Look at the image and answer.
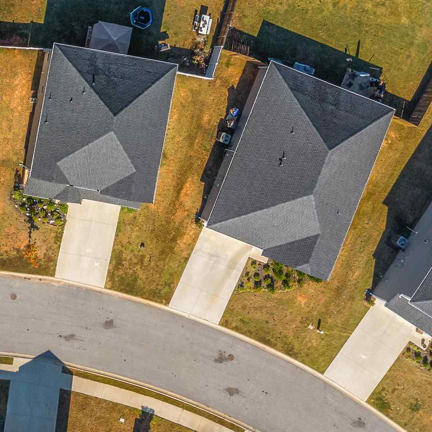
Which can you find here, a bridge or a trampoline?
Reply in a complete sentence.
I can see a trampoline in this picture.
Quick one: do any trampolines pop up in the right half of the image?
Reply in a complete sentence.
No, no trampoline can be made out in the right half of the image.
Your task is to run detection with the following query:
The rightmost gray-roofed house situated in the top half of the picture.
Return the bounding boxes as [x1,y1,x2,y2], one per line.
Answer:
[196,62,395,282]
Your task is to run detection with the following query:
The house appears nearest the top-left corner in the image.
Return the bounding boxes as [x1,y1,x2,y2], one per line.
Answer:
[18,43,179,209]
